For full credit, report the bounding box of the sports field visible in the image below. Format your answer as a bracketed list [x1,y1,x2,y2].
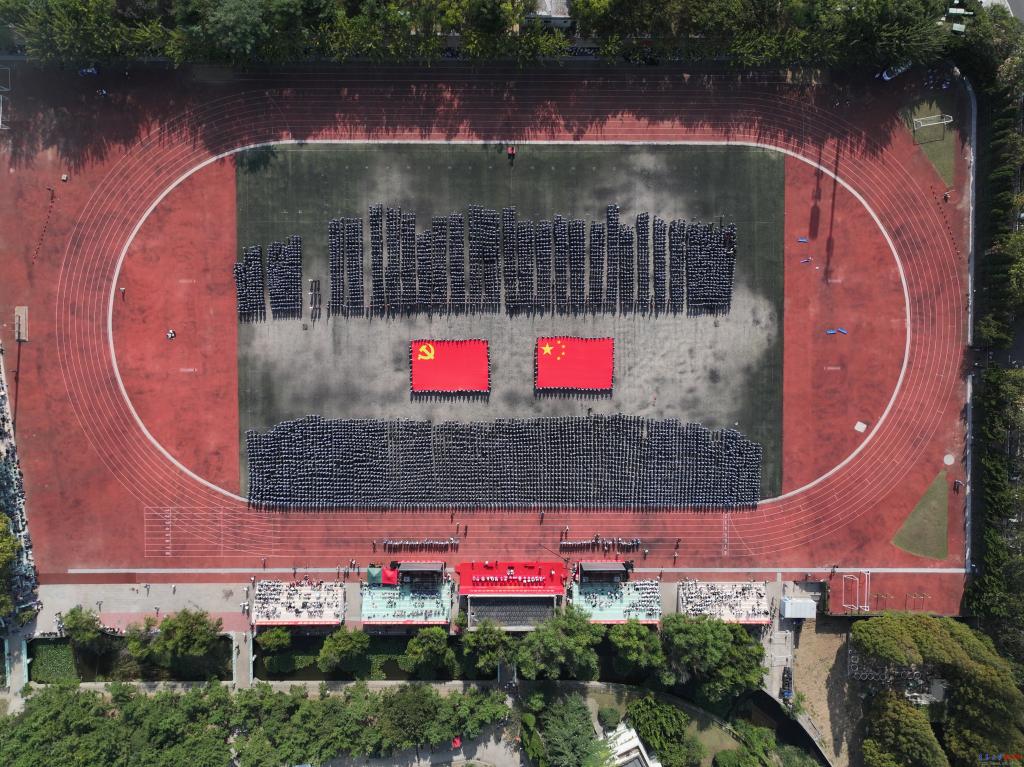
[111,144,907,504]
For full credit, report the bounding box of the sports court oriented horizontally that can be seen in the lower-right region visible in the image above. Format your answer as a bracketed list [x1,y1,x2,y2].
[829,574,966,617]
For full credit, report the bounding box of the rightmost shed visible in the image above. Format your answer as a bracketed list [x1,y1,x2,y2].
[920,672,946,701]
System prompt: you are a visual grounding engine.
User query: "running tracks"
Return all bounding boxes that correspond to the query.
[58,81,961,558]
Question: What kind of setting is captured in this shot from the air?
sports ground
